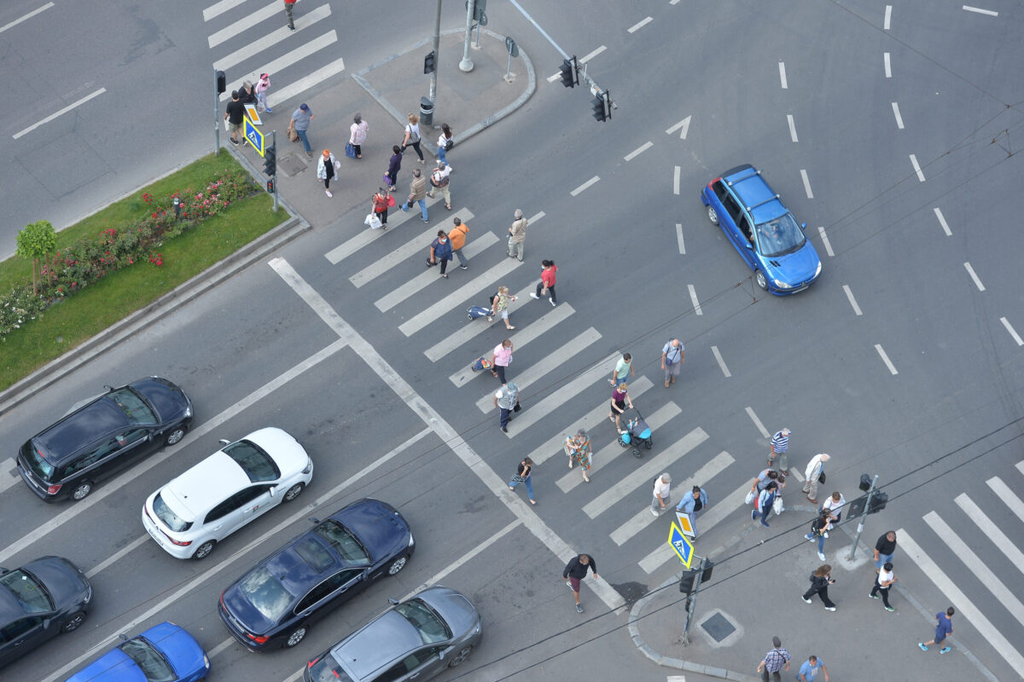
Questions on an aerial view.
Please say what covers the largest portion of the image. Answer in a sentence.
The largest share of the image is taken up by paved ground.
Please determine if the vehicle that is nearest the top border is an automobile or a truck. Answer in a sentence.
It looks like the vehicle that is nearest the top border is an automobile.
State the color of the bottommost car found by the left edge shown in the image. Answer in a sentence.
From above, the bottommost car found by the left edge appears blue.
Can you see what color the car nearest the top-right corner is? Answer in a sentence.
The color of the car nearest the top-right corner is blue.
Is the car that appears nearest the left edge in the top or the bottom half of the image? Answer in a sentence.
You can find the car that appears nearest the left edge in the bottom half.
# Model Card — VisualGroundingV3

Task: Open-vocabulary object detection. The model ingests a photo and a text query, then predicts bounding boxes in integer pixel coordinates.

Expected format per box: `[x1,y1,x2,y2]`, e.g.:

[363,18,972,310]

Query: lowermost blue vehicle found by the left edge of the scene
[42,617,203,682]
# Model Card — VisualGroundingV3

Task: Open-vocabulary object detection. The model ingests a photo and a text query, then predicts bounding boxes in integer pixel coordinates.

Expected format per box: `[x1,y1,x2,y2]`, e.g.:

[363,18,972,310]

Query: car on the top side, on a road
[704,161,824,296]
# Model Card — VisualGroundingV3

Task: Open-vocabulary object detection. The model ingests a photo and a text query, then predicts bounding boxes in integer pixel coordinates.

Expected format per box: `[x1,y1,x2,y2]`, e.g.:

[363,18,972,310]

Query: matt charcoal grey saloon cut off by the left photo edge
[0,551,94,671]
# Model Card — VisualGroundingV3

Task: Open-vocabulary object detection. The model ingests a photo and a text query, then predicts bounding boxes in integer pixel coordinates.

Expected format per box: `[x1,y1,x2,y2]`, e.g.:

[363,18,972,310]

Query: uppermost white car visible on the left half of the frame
[135,425,311,561]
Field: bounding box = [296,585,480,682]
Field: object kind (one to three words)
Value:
car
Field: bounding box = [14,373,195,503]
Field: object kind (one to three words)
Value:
car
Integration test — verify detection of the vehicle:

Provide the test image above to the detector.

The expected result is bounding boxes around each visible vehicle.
[296,585,480,682]
[704,161,824,296]
[135,425,311,561]
[215,498,413,654]
[42,617,203,682]
[0,551,94,671]
[14,373,195,503]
